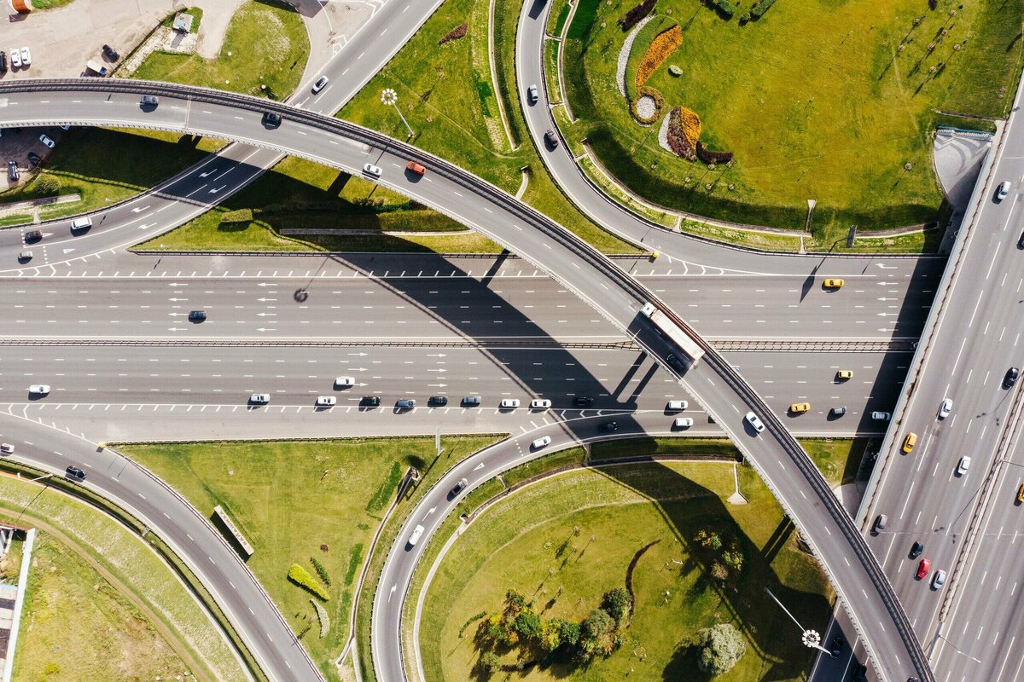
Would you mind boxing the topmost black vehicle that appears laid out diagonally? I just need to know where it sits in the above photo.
[100,43,121,63]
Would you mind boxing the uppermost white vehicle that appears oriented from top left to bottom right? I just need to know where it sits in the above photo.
[83,57,111,77]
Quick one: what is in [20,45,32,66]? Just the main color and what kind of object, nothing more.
white vehicle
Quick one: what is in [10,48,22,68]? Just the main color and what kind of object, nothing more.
white vehicle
